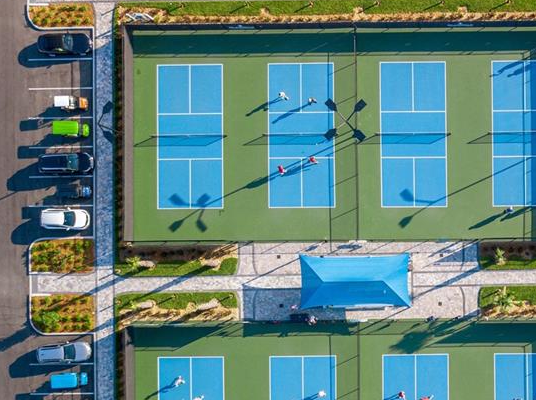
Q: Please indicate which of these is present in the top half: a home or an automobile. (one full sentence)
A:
The one visible in the top half is an automobile.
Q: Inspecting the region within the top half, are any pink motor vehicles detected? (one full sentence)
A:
No, I see no pink motor vehicle within the top half.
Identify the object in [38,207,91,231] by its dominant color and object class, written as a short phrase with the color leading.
white car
